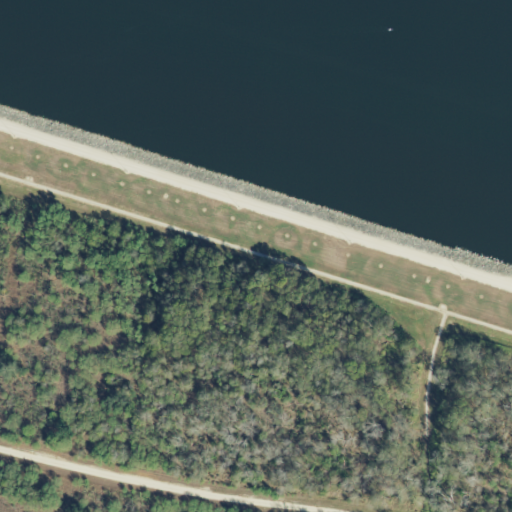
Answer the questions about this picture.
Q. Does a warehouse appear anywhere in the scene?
No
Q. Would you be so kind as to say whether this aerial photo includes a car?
No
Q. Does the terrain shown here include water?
Yes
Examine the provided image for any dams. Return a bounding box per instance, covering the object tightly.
[0,102,512,326]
